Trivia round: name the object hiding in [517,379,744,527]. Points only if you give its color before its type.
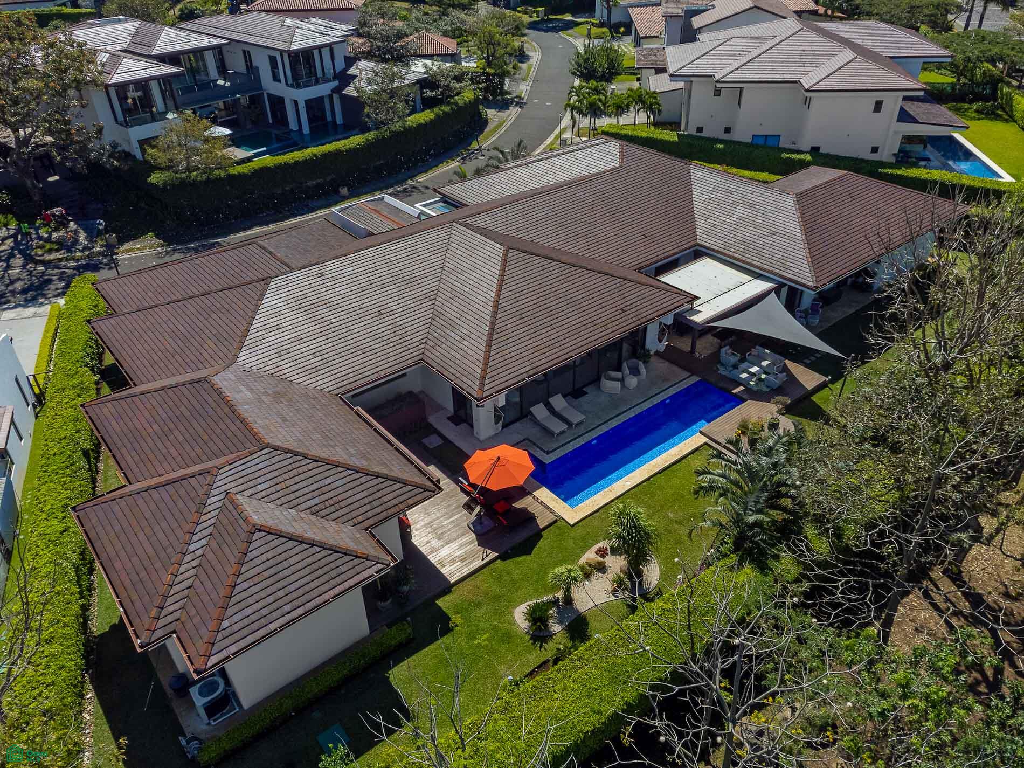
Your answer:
blue swimming pool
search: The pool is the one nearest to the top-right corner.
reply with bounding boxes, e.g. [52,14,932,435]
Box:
[903,132,1016,179]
